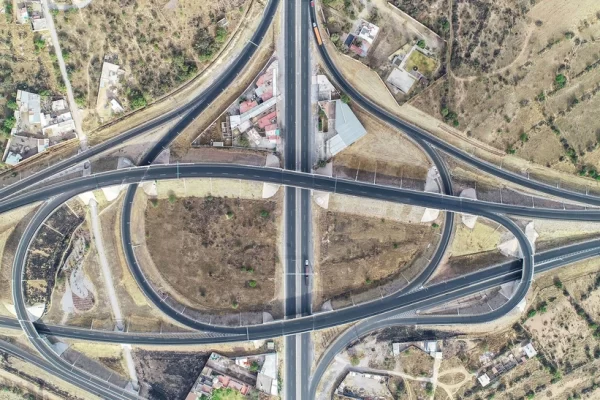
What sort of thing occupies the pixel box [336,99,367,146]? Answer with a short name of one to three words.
building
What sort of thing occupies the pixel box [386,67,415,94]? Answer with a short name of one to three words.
house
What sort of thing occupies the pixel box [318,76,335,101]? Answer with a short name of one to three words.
house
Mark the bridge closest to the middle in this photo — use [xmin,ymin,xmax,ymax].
[263,154,332,209]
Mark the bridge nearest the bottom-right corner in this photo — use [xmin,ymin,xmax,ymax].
[497,221,538,297]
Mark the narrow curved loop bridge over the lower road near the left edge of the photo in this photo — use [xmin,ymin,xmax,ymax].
[3,303,69,354]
